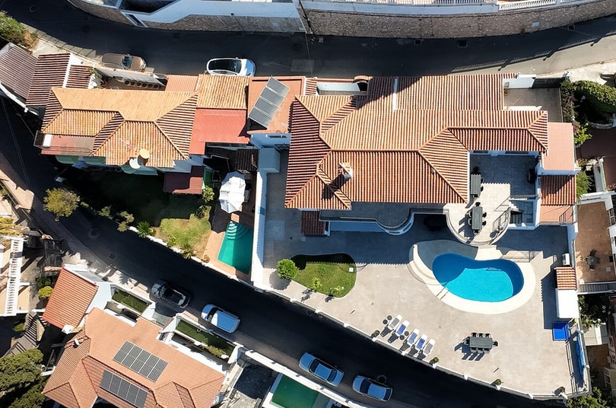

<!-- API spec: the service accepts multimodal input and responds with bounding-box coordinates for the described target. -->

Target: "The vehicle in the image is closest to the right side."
[350,373,394,403]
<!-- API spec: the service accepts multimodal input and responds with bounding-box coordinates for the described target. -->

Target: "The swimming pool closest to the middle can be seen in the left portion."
[218,221,254,274]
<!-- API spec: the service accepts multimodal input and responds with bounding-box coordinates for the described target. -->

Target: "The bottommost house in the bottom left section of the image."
[41,313,230,408]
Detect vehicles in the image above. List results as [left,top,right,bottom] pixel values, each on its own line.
[200,302,243,337]
[149,278,194,314]
[350,373,394,403]
[206,54,256,76]
[99,50,148,73]
[298,351,346,387]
